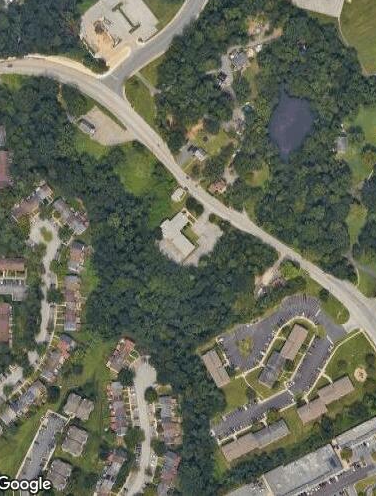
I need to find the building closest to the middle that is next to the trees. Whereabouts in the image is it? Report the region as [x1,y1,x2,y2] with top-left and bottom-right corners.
[160,212,194,255]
